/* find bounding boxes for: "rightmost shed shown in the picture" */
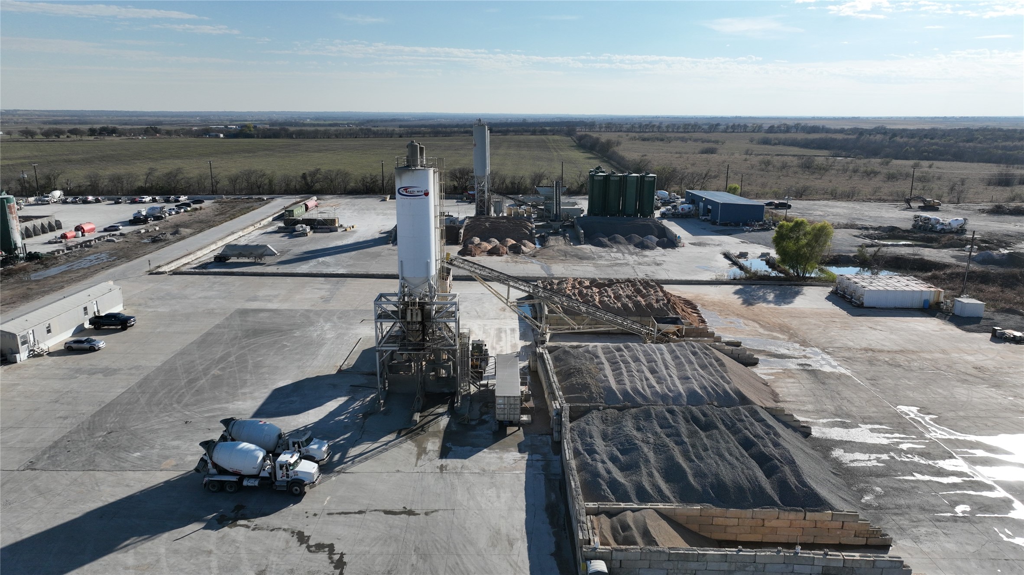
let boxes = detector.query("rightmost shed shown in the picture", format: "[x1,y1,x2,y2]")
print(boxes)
[947,292,994,317]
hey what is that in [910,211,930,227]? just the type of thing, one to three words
vehicle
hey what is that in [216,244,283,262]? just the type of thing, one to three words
trailer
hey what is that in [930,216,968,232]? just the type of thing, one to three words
vehicle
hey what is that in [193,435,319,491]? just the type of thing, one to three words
truck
